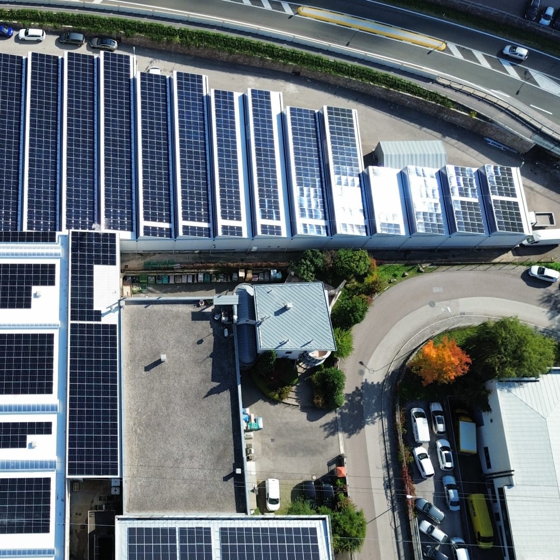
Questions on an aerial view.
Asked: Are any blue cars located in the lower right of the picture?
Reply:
Yes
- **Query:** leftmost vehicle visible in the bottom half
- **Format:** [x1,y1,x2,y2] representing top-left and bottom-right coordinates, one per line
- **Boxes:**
[264,474,283,516]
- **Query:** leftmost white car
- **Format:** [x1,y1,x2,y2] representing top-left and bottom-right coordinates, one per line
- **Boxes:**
[17,25,48,42]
